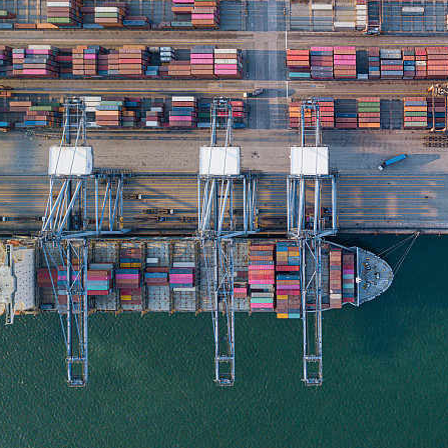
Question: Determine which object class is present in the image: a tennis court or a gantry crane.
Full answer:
Of the two, only a gantry crane appears.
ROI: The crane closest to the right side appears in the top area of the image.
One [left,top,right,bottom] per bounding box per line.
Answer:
[425,82,448,134]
